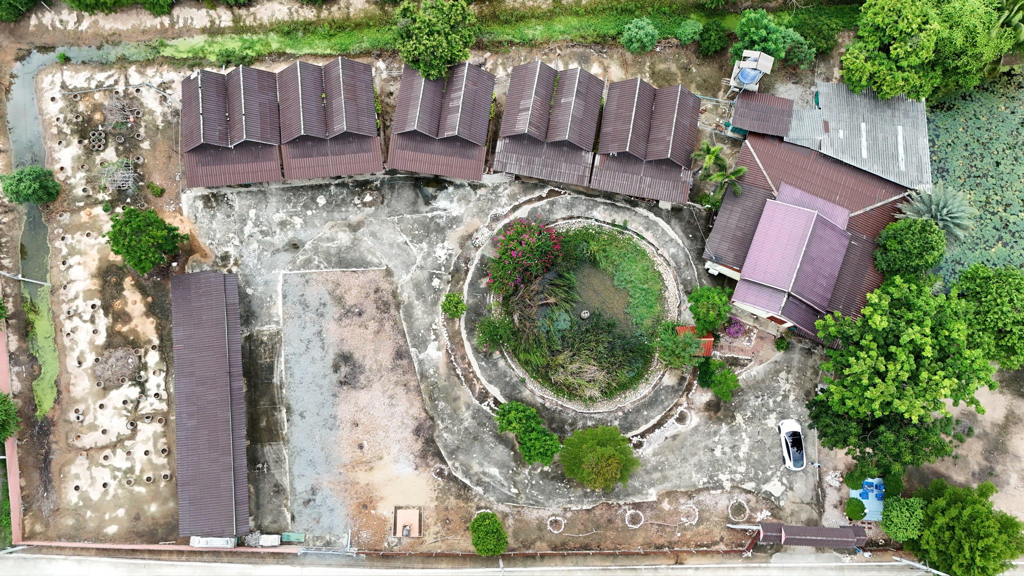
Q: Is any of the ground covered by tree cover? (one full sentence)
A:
Yes, some tree cover is visible.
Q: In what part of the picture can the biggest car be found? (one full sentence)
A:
The biggest car is in the bottom right part of the image.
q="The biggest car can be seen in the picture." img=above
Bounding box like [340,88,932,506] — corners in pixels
[774,419,805,473]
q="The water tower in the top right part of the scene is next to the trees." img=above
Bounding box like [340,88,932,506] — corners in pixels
[718,50,774,104]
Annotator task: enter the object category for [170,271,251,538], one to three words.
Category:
shed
